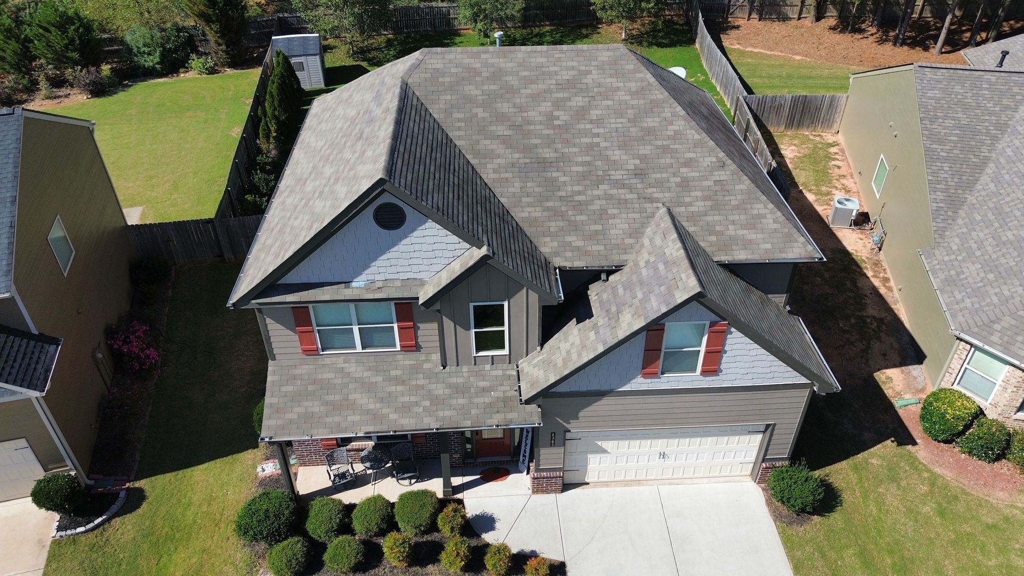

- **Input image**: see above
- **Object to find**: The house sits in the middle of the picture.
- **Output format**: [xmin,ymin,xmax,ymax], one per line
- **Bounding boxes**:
[221,28,846,503]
